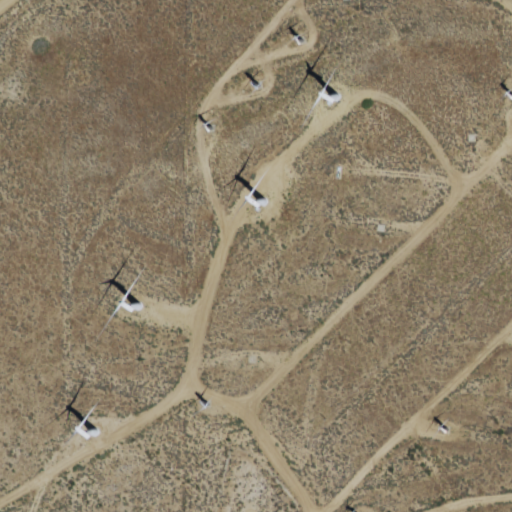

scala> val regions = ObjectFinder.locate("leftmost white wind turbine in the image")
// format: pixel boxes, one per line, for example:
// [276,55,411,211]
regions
[56,406,100,450]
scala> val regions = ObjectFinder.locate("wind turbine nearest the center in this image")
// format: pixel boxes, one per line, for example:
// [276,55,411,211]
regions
[228,168,268,214]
